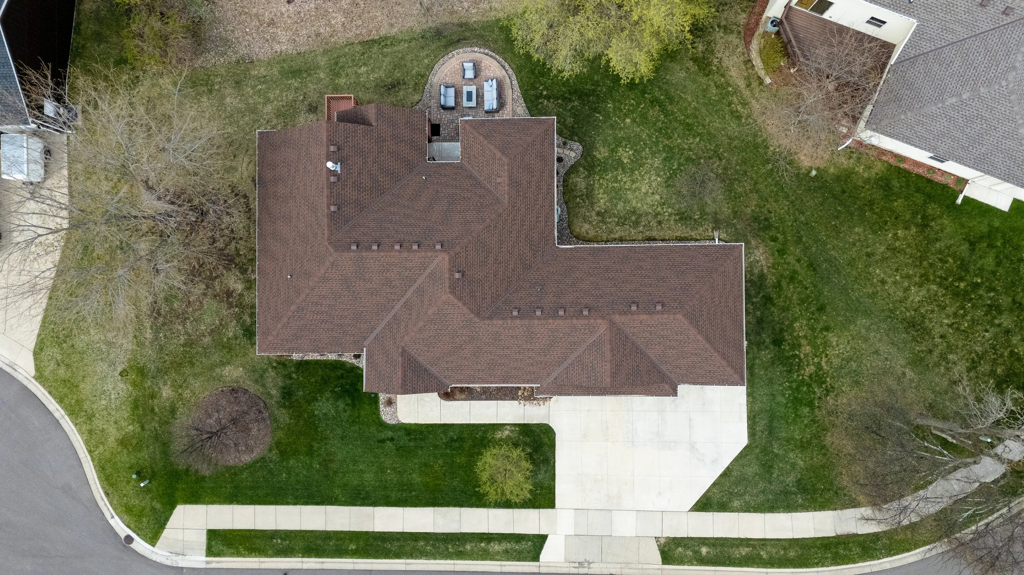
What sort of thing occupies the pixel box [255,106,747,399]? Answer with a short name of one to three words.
house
